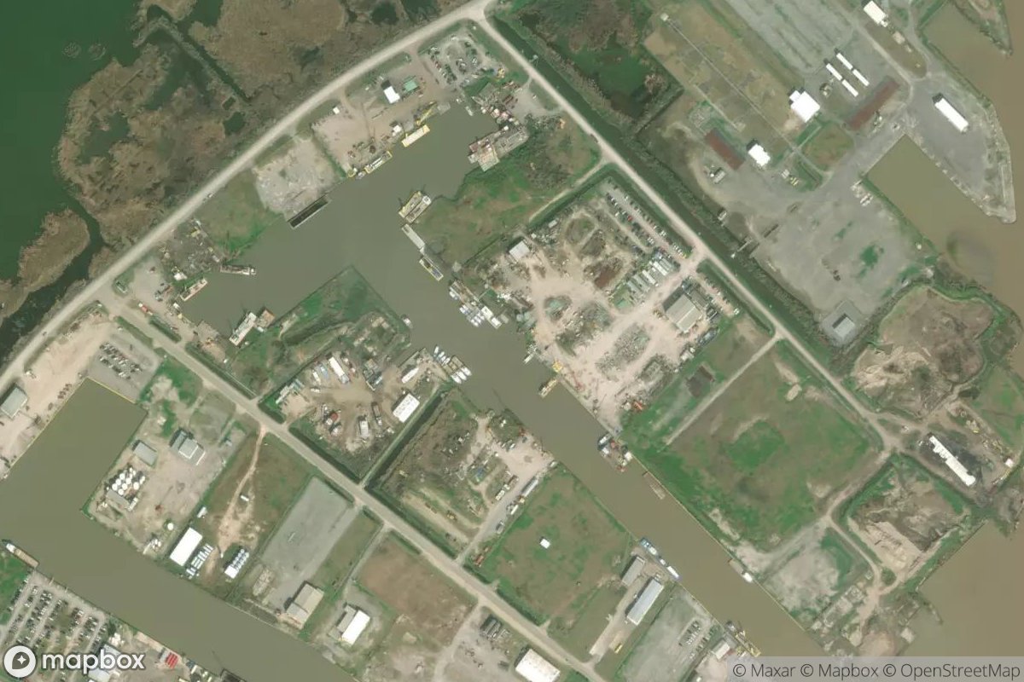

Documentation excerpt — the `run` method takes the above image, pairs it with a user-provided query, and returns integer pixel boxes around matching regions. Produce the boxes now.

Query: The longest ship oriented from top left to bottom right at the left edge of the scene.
[5,543,38,568]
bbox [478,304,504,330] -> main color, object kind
white boat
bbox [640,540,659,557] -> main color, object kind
white ship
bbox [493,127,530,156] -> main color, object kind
gray ship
